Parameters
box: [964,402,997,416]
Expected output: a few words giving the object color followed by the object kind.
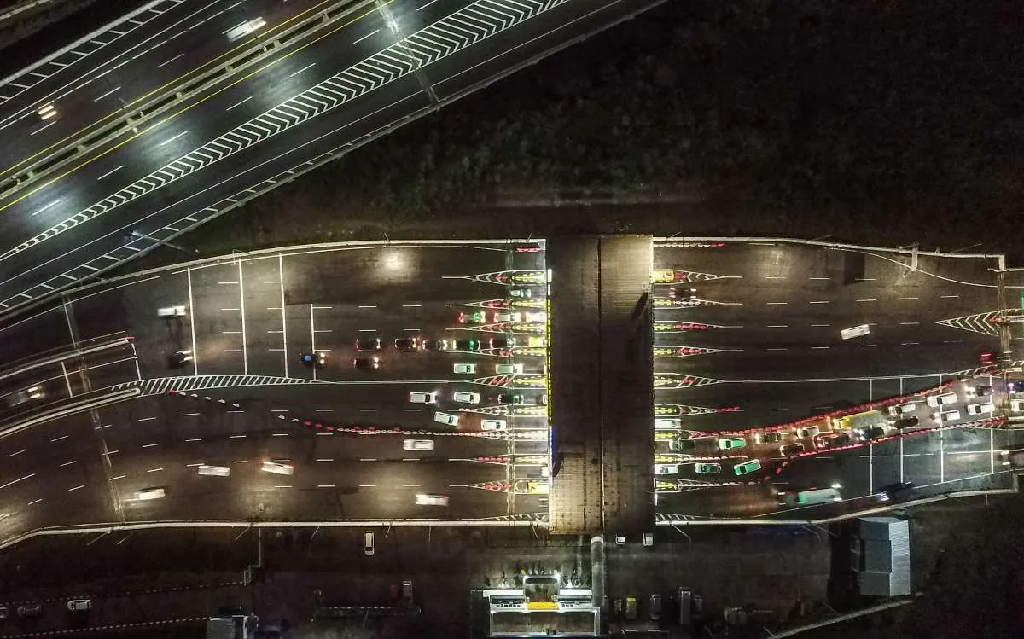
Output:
white car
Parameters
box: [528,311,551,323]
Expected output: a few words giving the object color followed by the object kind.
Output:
white vehicle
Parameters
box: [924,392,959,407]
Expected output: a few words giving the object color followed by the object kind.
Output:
white car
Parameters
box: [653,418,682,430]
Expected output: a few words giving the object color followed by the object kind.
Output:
white vehicle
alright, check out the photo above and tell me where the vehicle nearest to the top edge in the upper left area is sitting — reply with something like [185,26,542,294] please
[227,18,266,44]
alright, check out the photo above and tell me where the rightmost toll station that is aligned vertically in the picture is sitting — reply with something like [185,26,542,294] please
[551,235,653,534]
